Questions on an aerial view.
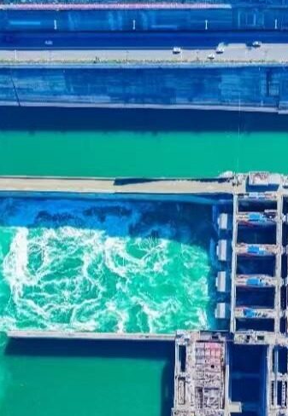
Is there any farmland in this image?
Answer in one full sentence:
No, the picture contains no farmland.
